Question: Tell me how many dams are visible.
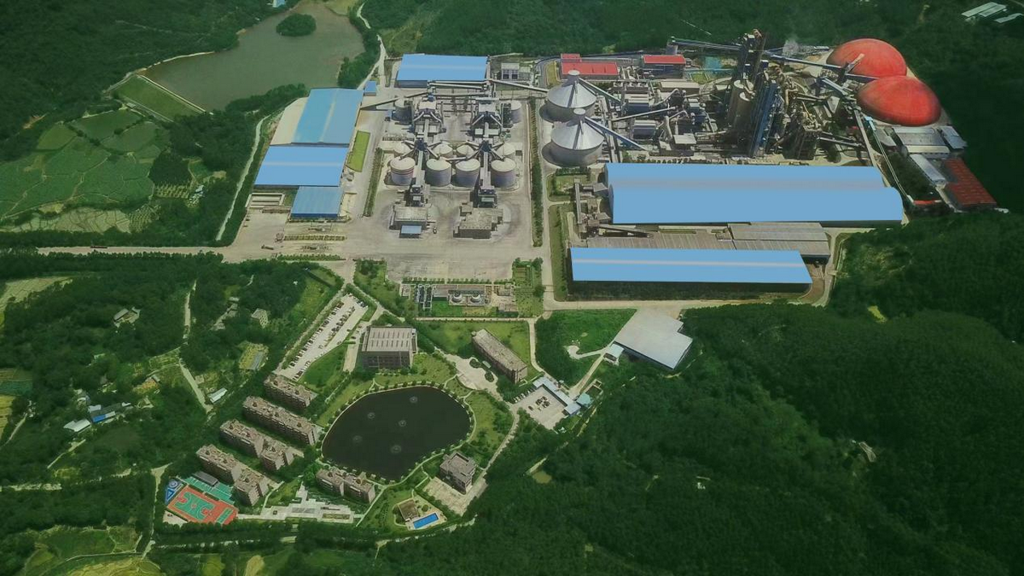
1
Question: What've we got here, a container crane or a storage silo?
storage silo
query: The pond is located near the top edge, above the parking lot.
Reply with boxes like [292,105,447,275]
[134,0,364,114]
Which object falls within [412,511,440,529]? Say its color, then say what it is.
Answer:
blue swimming pool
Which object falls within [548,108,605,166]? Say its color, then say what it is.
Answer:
gray silo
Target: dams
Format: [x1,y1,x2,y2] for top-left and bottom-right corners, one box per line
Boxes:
[116,73,211,121]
